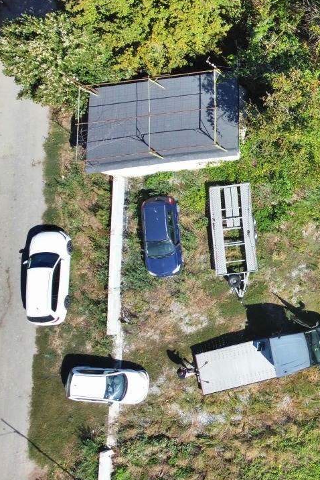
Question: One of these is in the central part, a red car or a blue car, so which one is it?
blue car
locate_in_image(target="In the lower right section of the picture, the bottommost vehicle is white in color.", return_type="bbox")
[196,312,320,396]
